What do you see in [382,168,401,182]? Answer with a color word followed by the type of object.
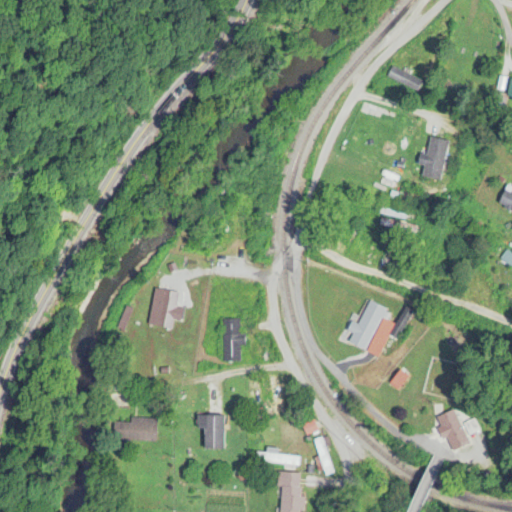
white vehicle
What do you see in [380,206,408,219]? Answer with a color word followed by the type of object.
white vehicle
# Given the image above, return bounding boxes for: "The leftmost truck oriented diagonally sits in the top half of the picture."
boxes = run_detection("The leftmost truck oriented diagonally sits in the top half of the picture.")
[158,88,186,116]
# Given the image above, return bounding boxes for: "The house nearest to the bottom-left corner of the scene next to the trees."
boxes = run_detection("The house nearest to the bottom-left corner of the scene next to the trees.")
[114,418,158,442]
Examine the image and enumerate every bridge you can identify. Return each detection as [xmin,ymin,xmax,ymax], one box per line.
[407,454,445,512]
